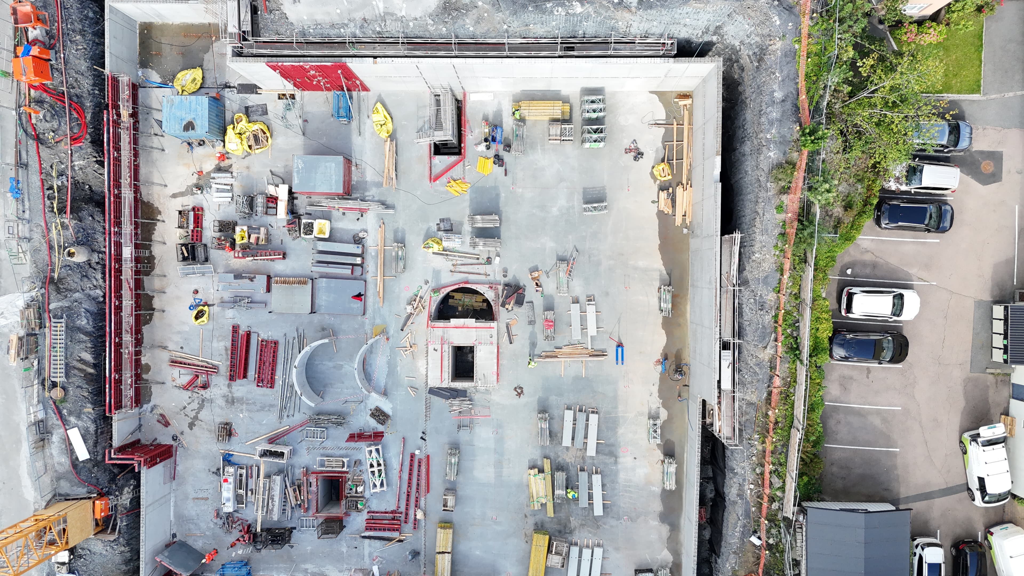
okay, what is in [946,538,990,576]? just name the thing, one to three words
car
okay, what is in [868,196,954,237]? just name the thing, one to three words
car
